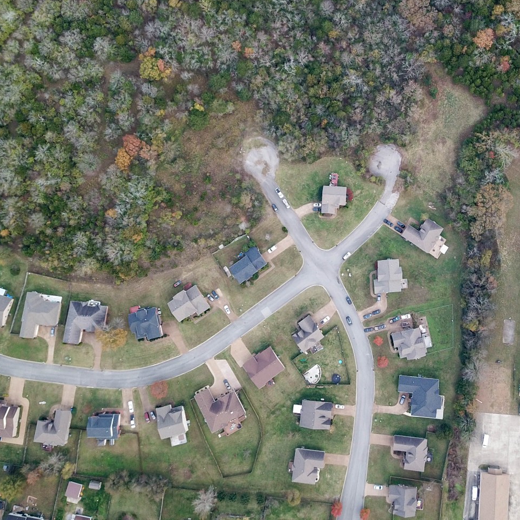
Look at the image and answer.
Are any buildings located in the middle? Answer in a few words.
Yes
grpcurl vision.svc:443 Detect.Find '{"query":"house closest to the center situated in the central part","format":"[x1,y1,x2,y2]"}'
[229,247,266,284]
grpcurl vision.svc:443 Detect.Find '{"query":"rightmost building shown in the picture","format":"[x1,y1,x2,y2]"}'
[478,467,510,520]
